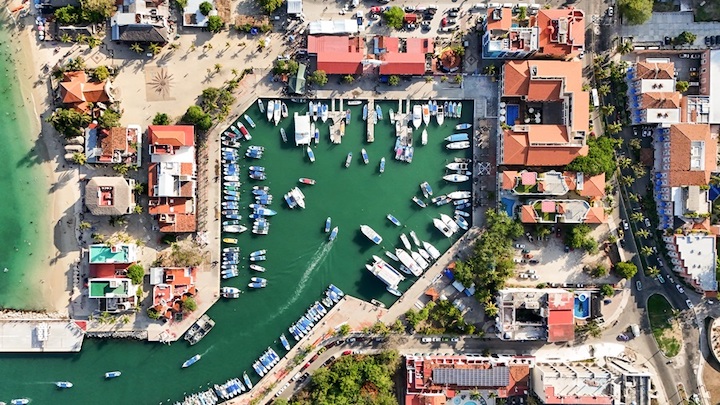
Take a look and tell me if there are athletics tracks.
No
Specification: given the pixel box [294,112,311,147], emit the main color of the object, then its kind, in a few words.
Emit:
white boat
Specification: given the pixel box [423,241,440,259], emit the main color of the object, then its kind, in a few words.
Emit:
white boat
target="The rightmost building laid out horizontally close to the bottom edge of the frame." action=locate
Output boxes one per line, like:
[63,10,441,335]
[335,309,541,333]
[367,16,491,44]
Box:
[531,354,657,405]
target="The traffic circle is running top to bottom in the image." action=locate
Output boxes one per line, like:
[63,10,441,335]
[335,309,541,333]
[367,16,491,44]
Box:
[648,292,683,359]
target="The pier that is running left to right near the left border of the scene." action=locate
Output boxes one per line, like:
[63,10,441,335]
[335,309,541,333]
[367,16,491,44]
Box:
[0,318,87,353]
